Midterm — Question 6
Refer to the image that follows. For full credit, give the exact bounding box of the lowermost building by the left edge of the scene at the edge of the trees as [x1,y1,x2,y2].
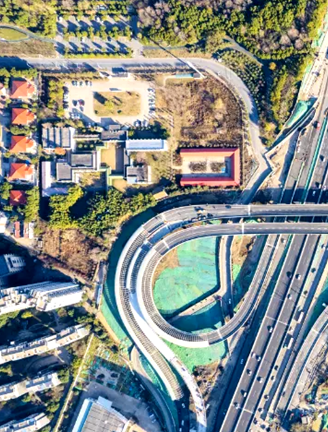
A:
[0,409,60,432]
